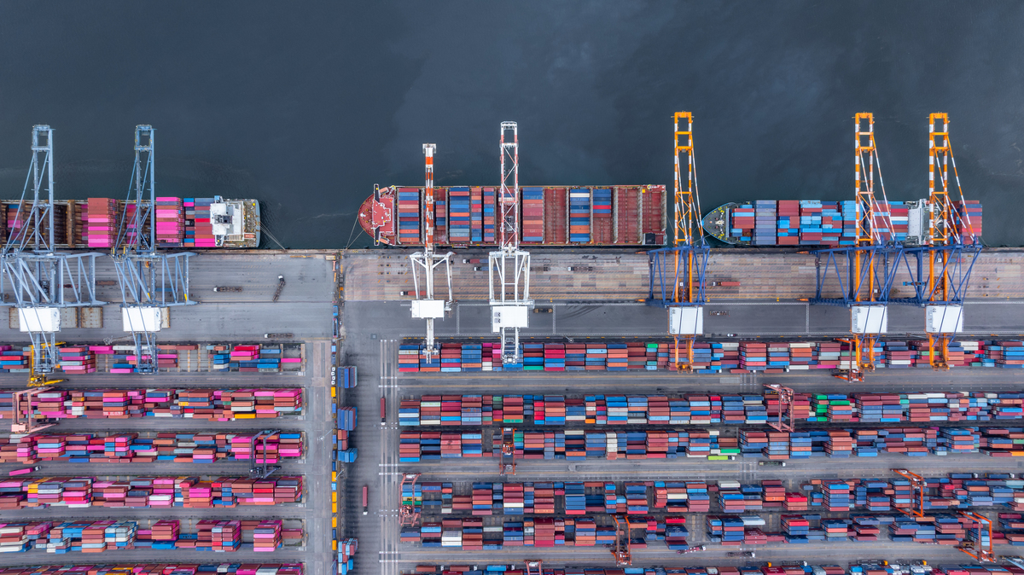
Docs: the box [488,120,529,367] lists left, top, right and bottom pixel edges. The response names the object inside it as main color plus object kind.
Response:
white container crane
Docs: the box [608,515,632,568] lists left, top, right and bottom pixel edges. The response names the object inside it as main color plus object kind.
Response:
red crane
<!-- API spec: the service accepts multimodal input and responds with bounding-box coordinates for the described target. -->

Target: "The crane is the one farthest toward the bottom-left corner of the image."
[8,386,57,433]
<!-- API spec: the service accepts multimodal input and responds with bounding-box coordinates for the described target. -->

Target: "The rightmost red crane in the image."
[953,510,995,563]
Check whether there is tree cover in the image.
No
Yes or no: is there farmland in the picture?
No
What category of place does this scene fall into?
port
